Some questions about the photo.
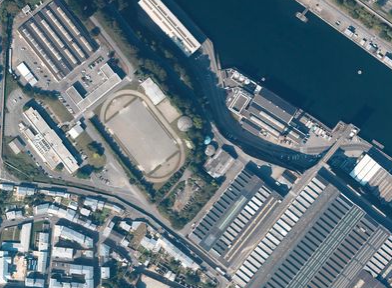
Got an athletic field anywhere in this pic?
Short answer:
Yes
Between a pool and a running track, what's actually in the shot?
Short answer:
running track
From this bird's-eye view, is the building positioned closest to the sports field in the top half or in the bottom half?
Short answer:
top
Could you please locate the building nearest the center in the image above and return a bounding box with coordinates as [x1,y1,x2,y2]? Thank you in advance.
[203,149,233,178]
